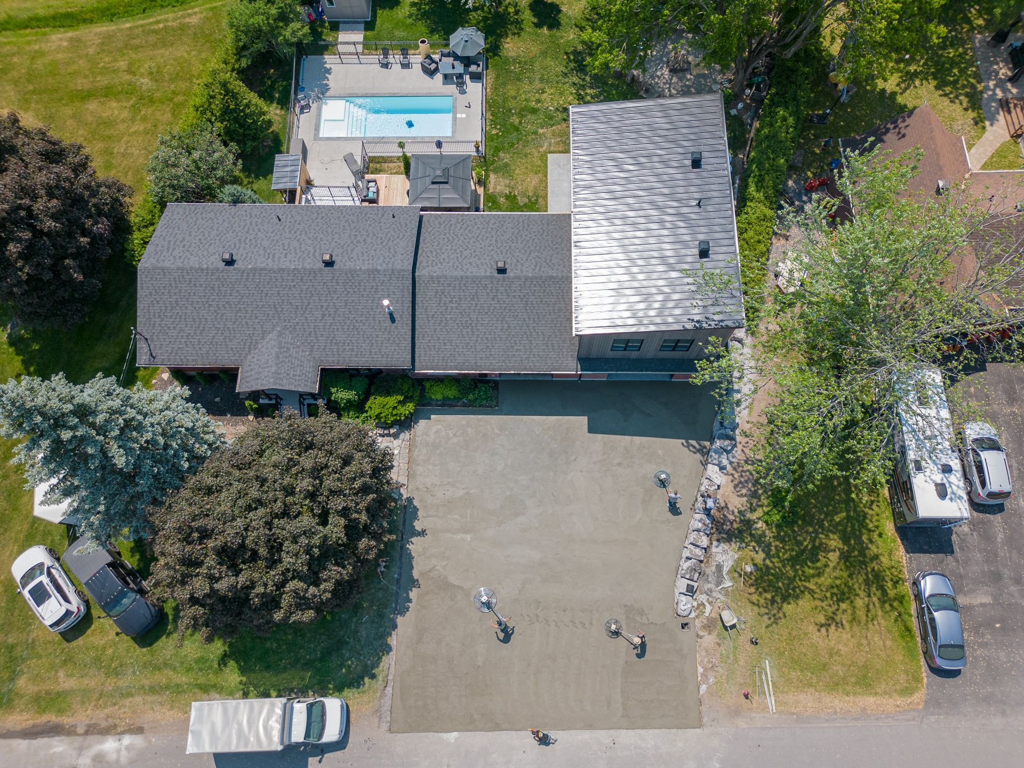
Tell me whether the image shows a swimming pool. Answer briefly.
Yes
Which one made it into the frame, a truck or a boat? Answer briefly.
truck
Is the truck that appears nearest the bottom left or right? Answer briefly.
left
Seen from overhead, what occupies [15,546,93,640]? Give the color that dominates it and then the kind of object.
white car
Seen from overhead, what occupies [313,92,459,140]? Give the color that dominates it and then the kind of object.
white swimming pool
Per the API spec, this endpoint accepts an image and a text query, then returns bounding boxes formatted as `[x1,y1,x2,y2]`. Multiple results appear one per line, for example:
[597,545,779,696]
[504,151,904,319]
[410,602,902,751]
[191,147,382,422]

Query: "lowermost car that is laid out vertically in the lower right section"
[909,573,968,673]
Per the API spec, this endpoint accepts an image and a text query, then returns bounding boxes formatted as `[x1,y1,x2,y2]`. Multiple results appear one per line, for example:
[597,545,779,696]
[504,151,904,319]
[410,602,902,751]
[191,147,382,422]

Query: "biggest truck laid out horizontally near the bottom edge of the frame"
[186,686,351,757]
